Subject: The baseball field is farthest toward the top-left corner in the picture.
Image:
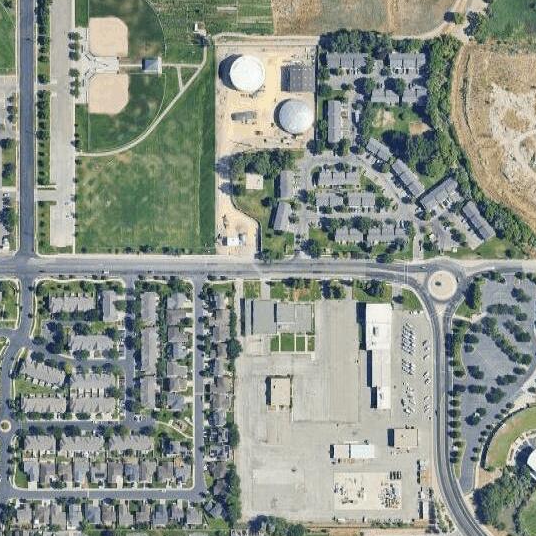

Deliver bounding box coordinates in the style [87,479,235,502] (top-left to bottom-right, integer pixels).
[82,15,129,59]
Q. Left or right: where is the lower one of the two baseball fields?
left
